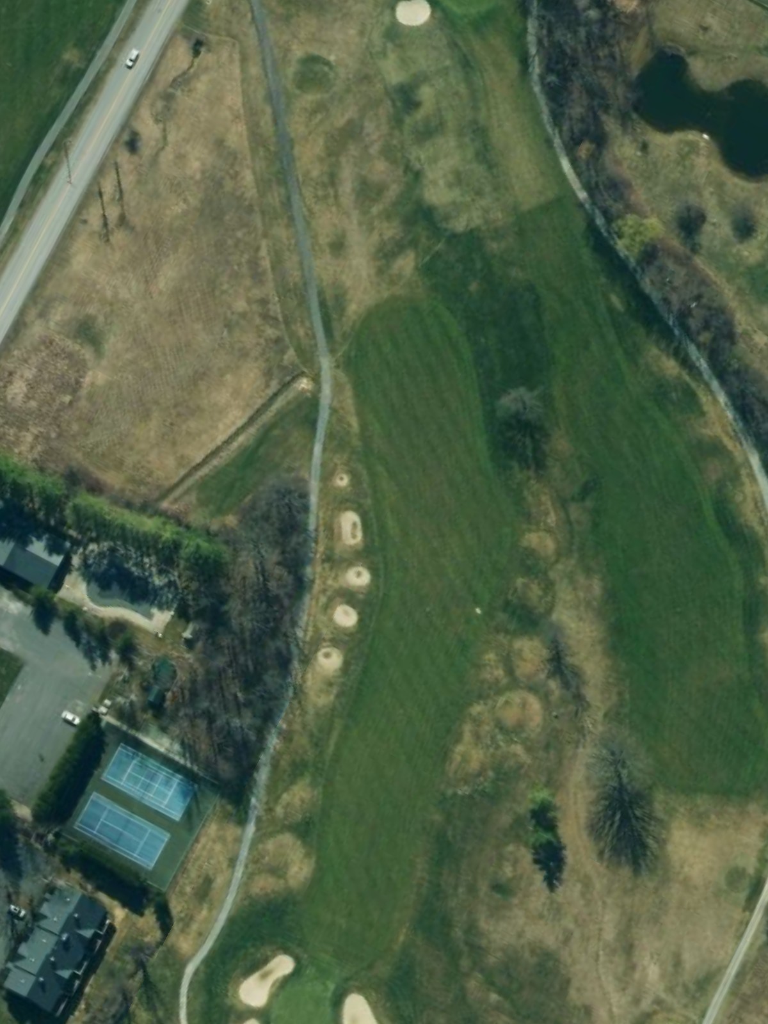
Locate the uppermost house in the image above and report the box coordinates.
[0,513,69,586]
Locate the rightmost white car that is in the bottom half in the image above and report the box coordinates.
[61,711,79,725]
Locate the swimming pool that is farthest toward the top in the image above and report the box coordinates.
[63,566,174,638]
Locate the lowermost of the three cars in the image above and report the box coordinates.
[9,904,26,918]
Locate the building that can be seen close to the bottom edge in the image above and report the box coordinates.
[1,882,108,1017]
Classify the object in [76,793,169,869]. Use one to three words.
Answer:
tennis court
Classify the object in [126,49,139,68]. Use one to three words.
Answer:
vehicle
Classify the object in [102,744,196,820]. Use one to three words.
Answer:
tennis court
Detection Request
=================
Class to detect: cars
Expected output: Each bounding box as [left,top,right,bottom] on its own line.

[9,904,26,918]
[126,49,139,68]
[61,711,79,725]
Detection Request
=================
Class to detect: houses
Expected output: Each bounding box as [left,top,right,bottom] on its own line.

[1,882,108,1017]
[0,513,69,586]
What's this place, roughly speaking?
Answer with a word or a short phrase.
golf course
